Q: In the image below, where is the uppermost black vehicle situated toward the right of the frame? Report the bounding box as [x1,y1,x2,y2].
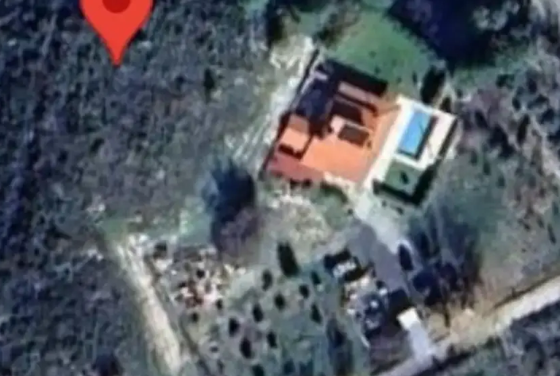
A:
[330,248,353,265]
